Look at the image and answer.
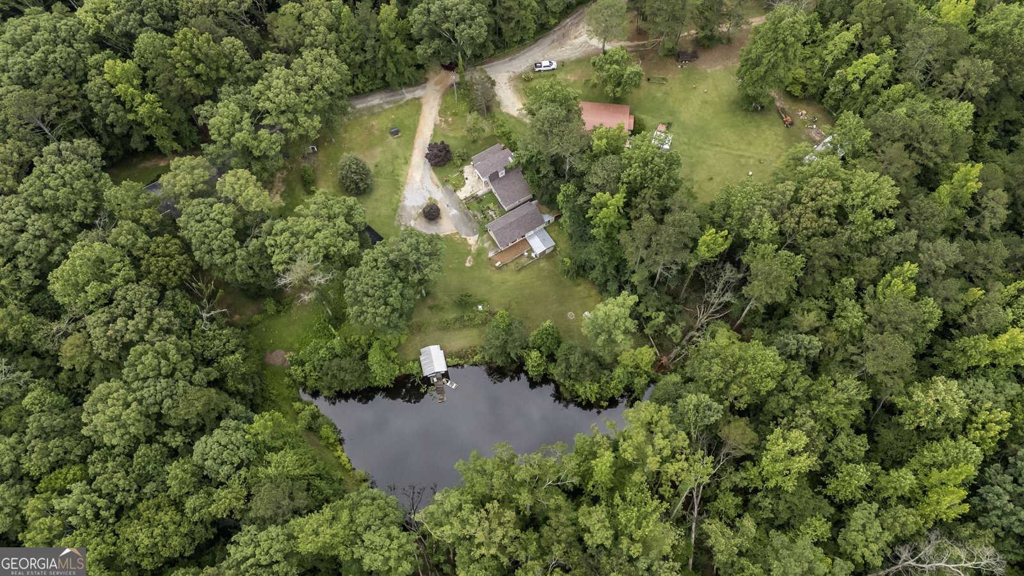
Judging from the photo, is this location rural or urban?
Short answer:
rural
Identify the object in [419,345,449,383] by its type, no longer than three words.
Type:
building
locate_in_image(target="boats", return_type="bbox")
[441,377,458,389]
